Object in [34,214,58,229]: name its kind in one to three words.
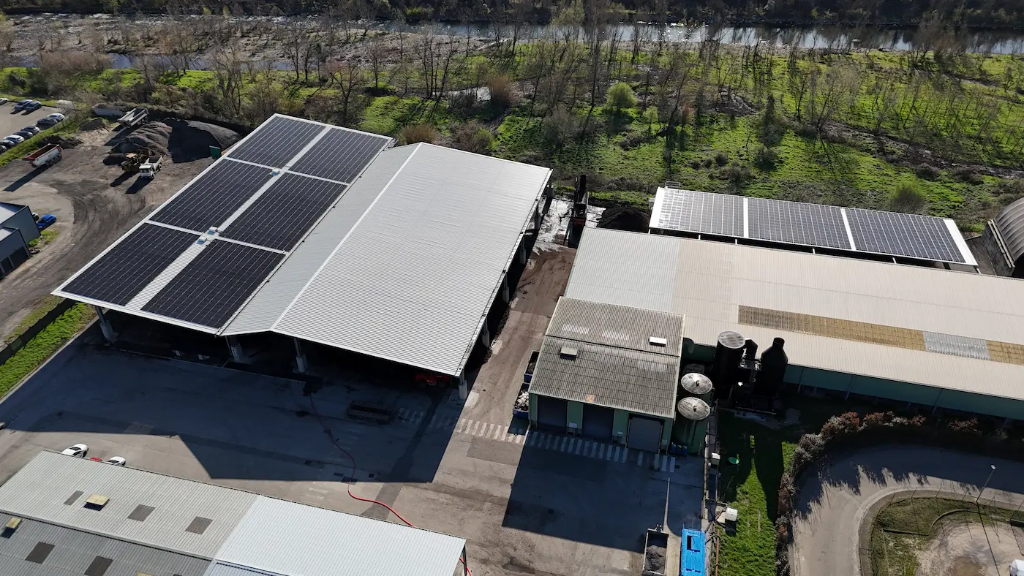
car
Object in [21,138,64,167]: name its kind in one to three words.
trailer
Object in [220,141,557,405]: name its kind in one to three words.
building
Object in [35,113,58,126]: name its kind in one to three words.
vehicle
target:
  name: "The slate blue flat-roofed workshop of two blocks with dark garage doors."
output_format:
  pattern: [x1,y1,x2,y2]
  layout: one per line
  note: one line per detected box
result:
[0,199,39,277]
